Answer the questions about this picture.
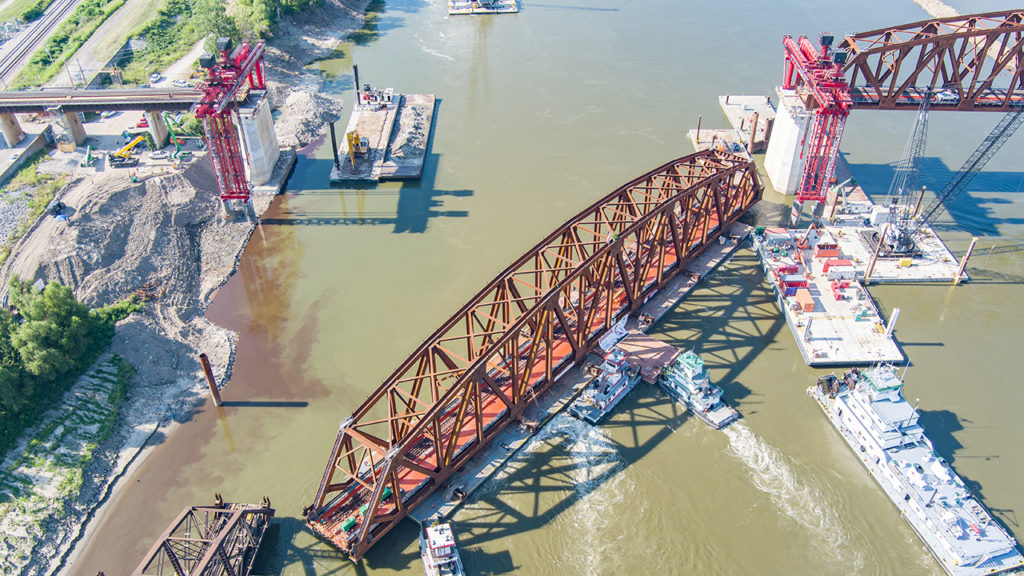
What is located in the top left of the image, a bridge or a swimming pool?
bridge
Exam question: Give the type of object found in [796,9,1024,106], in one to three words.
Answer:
bridge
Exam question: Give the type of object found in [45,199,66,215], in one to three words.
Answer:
vehicle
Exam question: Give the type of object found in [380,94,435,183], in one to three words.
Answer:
ship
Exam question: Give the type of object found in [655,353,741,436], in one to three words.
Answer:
boat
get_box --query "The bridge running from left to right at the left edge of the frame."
[0,80,238,150]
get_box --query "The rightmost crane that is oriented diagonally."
[854,48,1024,257]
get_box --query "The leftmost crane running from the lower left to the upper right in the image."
[100,125,150,167]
